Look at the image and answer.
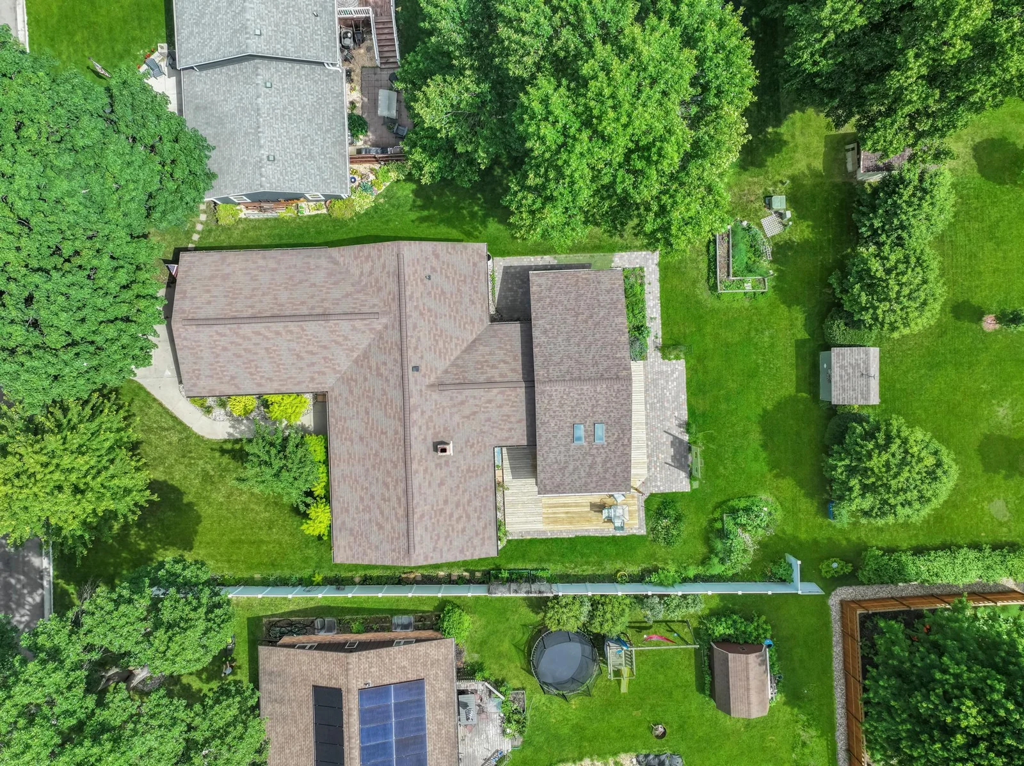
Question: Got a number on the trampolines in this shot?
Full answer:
Just 1 trampoline appears in this view.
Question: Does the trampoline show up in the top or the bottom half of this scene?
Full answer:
Seen from above, the trampoline lies in the bottom half of the view.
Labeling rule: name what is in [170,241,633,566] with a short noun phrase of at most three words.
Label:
house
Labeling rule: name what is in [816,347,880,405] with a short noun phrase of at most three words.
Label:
shed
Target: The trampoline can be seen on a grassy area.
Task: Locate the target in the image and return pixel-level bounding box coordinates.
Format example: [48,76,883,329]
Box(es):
[530,625,601,707]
